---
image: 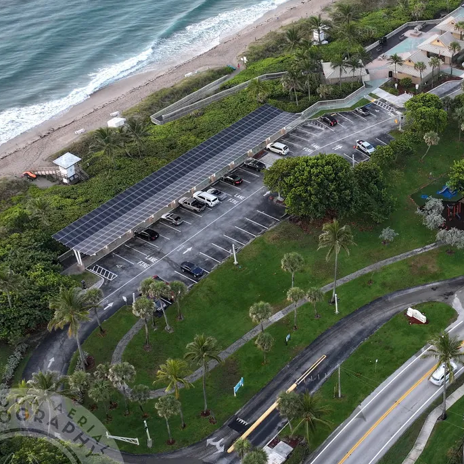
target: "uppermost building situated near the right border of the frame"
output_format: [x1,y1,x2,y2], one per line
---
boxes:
[434,15,464,40]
